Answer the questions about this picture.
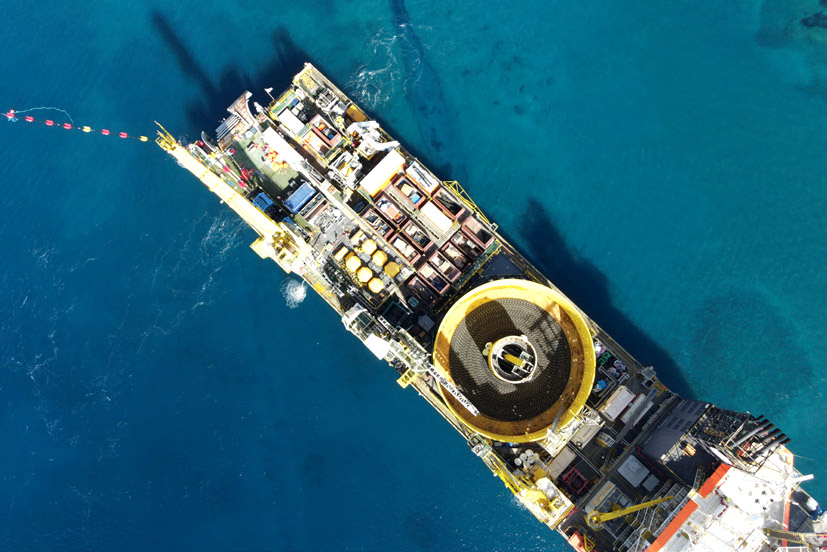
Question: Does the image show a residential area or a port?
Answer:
port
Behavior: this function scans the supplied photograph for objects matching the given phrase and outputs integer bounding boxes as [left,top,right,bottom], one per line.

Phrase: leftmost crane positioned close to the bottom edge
[470,430,577,525]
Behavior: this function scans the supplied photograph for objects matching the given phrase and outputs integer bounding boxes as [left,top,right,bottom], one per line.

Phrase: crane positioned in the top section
[346,120,401,160]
